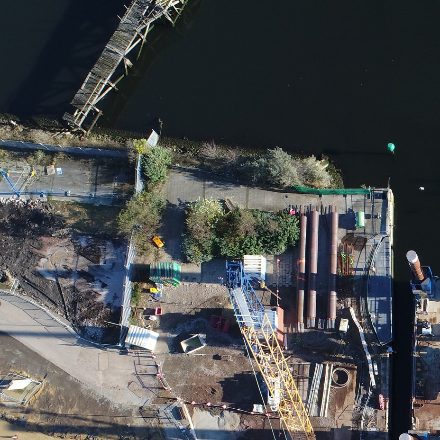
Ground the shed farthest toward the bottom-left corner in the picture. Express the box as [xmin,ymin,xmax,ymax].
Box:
[125,325,167,354]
